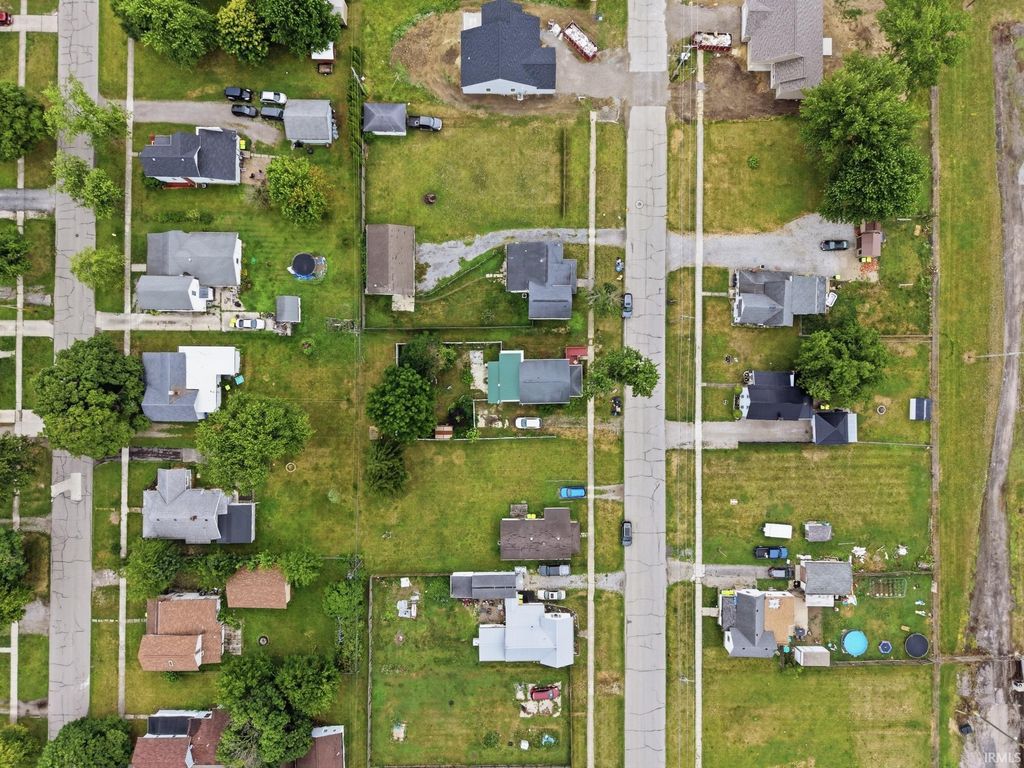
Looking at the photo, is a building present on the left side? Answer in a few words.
Yes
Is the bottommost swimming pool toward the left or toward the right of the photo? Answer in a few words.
right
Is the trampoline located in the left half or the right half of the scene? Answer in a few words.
right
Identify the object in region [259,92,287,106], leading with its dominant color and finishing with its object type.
white car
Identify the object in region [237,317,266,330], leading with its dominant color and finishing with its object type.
white vehicle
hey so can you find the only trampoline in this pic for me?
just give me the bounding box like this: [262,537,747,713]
[903,634,928,657]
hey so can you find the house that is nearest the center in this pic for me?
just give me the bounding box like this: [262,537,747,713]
[488,347,588,404]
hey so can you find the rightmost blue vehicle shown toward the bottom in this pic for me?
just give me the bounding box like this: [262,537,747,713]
[754,546,788,561]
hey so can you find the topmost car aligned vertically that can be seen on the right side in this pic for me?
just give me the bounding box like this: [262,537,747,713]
[620,292,634,320]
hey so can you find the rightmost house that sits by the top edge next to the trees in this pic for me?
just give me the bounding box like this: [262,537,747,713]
[740,0,833,96]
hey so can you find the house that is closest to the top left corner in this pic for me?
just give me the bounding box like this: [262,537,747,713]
[136,128,243,190]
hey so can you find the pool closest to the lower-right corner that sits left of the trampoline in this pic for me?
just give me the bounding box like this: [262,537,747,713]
[838,629,869,657]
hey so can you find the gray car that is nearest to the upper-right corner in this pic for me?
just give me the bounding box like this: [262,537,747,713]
[819,238,849,252]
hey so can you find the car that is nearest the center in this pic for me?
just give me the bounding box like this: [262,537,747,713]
[514,416,541,430]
